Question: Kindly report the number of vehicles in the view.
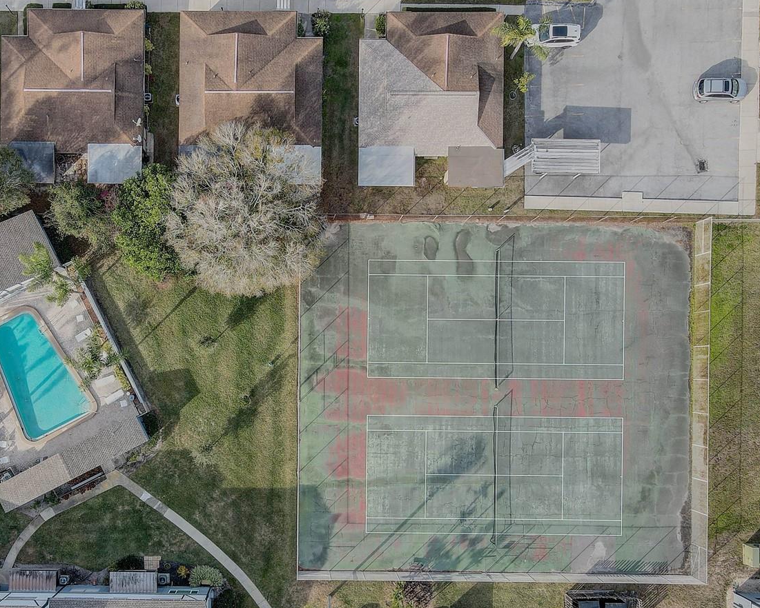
two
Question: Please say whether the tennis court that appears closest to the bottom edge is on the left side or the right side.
right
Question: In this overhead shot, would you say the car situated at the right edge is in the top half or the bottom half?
top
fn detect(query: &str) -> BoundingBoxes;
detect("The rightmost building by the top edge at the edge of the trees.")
[358,11,505,156]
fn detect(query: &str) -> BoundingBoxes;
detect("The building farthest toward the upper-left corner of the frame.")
[0,8,147,153]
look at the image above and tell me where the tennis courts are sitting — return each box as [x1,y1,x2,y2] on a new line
[299,223,691,397]
[299,397,691,574]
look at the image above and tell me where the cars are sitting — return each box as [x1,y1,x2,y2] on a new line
[692,77,744,102]
[529,22,583,49]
